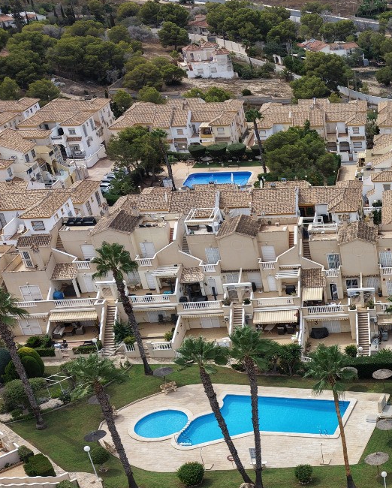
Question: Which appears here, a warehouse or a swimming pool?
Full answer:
There is a swimming pool in the scene.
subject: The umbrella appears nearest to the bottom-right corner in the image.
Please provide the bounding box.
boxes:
[360,452,390,475]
